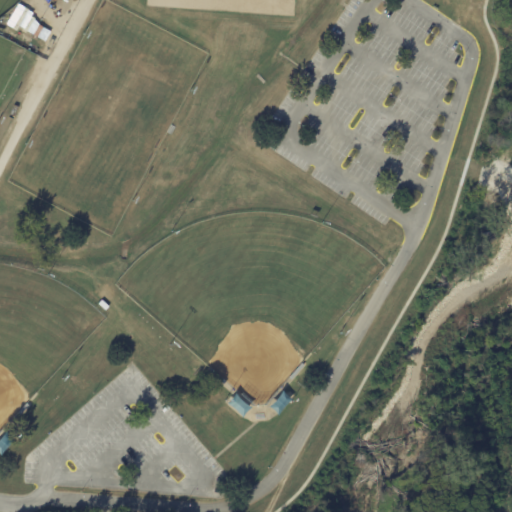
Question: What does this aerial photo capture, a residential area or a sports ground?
sports ground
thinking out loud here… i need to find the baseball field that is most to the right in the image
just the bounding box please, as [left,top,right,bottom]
[117,212,386,406]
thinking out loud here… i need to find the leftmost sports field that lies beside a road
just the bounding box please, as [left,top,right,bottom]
[0,35,43,120]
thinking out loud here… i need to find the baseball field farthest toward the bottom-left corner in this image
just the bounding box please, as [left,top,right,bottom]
[0,264,106,428]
